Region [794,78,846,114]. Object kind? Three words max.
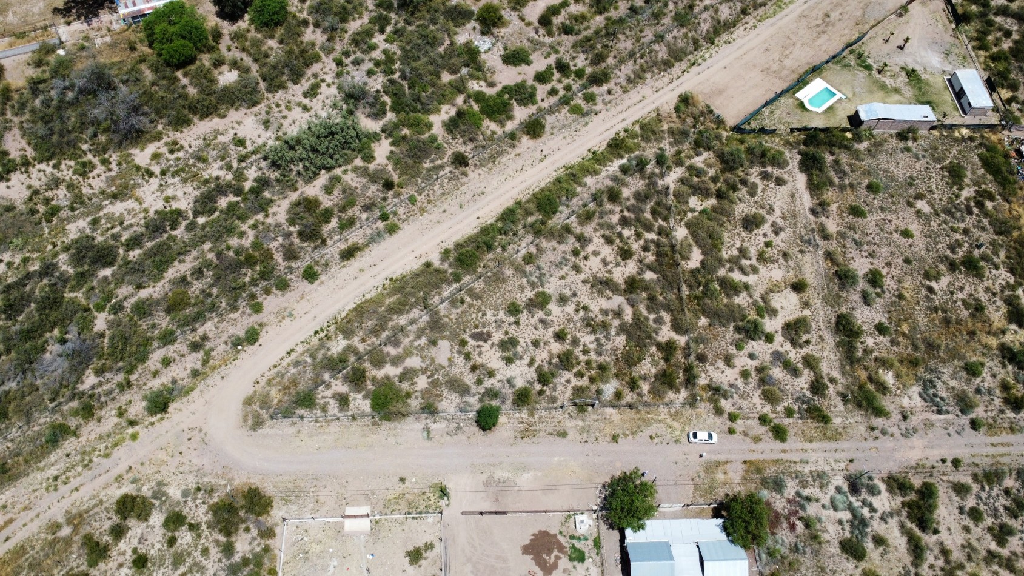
swimming pool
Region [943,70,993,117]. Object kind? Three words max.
shed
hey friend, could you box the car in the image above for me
[689,430,719,445]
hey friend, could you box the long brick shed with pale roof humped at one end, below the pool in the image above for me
[851,101,938,131]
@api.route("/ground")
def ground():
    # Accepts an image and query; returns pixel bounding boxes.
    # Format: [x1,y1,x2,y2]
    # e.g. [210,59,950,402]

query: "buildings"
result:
[622,519,749,576]
[943,70,993,117]
[114,0,175,27]
[851,101,938,131]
